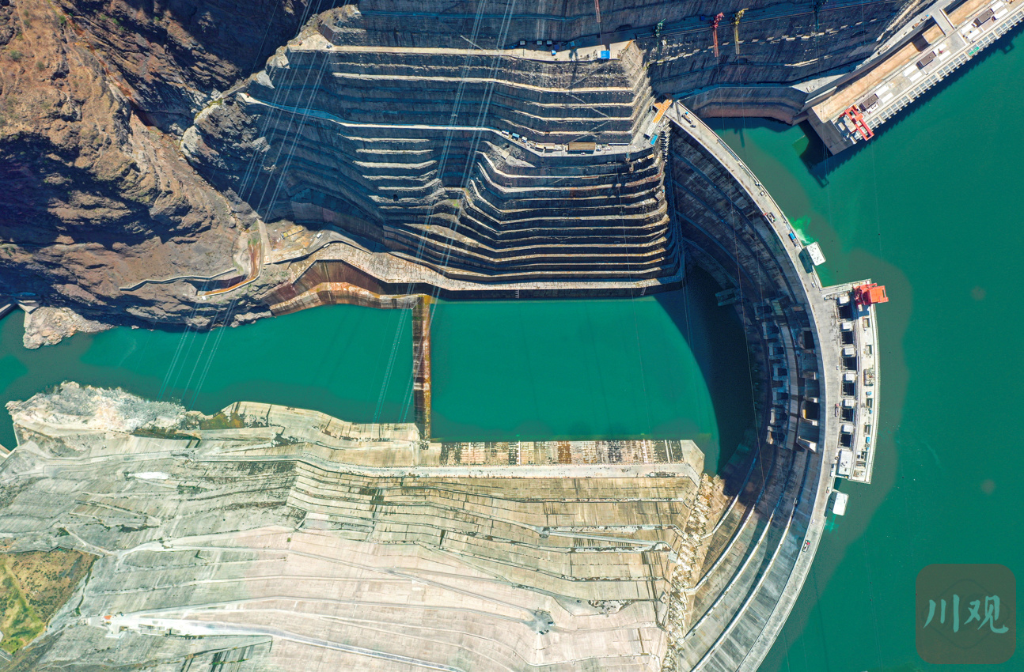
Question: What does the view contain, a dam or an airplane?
dam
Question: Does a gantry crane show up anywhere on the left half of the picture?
No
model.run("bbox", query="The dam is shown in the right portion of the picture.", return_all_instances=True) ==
[660,98,880,672]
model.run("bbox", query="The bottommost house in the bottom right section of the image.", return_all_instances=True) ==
[832,492,854,519]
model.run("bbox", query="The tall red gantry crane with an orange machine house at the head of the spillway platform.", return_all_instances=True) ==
[848,294,891,317]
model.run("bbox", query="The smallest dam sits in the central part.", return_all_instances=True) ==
[415,296,432,442]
